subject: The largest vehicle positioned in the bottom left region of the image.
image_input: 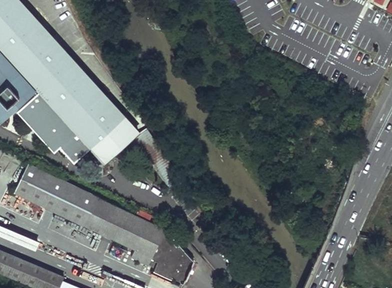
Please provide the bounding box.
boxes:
[73,269,102,286]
